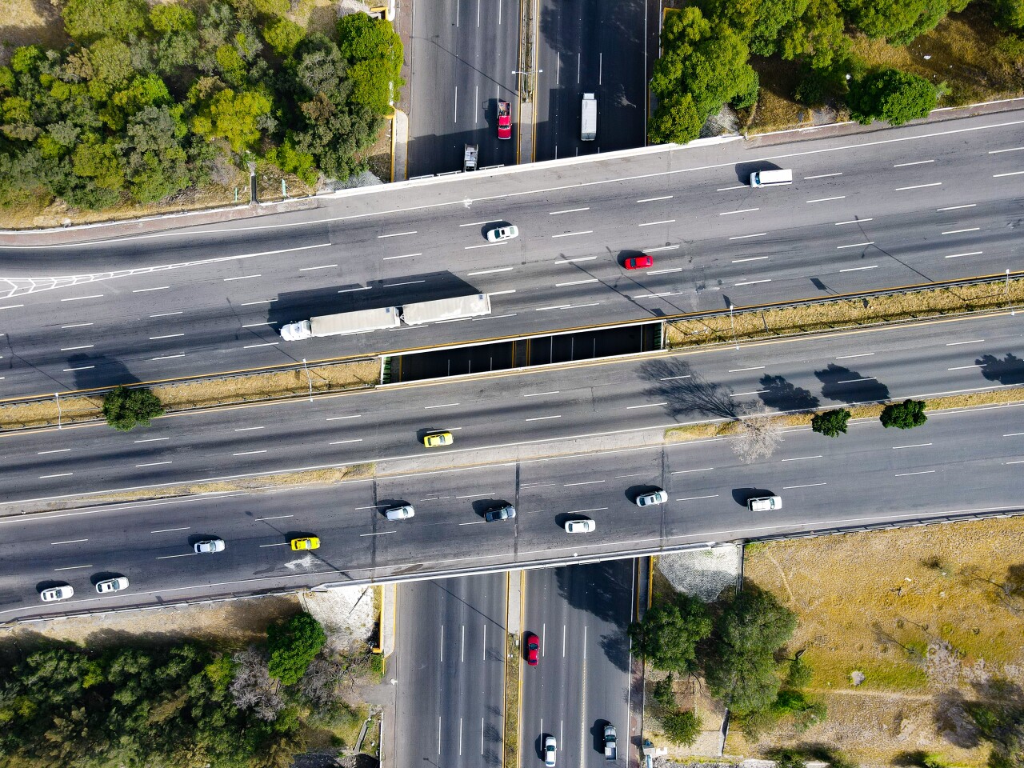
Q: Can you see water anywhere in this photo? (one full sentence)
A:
No, the scene doesn't show any water.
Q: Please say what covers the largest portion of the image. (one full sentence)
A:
What you mostly see from above here is paved ground.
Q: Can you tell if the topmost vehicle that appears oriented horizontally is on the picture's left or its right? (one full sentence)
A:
The topmost vehicle that appears oriented horizontally appears in the right half of the scene.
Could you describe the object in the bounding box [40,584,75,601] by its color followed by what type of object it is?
white car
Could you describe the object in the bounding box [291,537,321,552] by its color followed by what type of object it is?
yellow car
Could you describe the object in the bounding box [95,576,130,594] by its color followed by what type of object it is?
white car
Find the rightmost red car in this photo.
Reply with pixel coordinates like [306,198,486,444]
[624,255,654,270]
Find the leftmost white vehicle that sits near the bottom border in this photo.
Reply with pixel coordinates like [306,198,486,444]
[543,735,557,767]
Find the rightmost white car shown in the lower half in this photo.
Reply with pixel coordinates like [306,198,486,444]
[747,496,783,512]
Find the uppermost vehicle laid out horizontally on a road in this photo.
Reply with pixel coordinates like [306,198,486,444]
[750,167,795,189]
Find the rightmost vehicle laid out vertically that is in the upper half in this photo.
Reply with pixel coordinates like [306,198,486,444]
[581,94,599,143]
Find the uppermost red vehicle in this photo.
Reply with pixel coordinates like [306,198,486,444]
[496,102,512,139]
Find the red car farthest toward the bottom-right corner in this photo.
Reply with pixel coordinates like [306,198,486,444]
[526,634,540,665]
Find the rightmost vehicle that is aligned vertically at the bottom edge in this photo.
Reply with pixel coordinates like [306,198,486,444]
[603,723,619,762]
